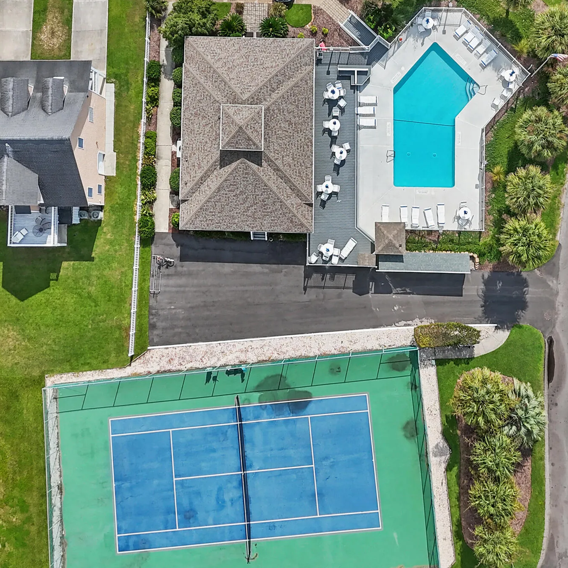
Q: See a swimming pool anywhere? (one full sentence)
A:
Yes, the picture does show a swimming pool.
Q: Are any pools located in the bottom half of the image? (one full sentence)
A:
No, the scene shows no pool in the bottom half of the image.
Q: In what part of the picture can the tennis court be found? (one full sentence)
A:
The tennis court is in the bottom part of the image.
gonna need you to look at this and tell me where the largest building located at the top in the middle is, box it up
[178,30,315,242]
